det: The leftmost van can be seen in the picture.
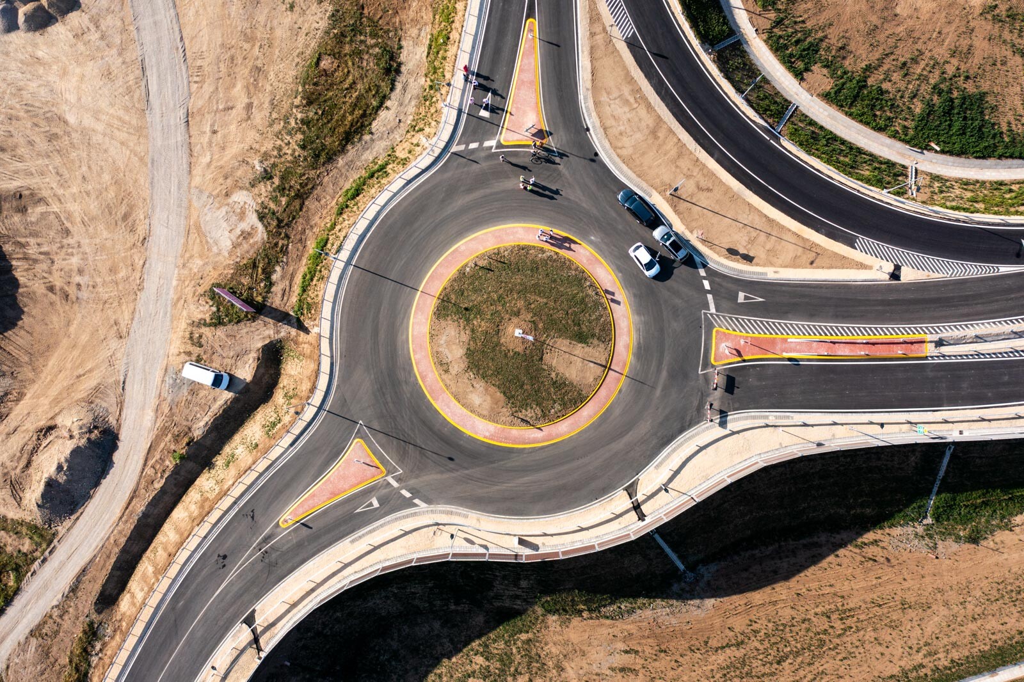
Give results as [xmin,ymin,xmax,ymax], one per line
[177,361,230,391]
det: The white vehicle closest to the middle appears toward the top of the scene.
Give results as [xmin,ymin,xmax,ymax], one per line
[628,242,660,278]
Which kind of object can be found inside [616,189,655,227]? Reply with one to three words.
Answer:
car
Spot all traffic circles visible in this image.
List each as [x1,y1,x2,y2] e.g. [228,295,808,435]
[307,140,731,520]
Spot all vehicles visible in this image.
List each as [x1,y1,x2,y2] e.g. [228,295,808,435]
[177,361,230,391]
[628,242,660,278]
[652,227,689,264]
[616,189,655,227]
